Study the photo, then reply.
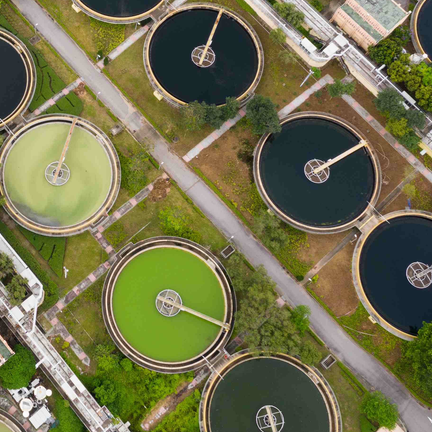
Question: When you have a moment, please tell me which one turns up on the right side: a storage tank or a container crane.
storage tank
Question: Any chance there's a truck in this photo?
No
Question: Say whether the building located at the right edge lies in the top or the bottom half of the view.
top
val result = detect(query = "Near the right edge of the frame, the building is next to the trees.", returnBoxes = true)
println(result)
[332,0,411,54]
